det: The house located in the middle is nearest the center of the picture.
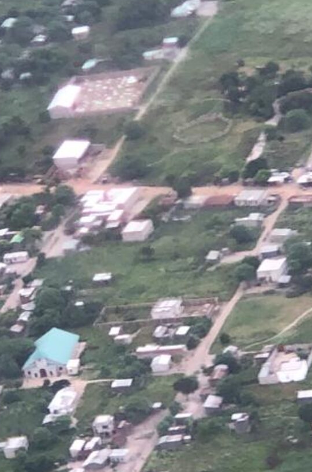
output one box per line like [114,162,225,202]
[121,219,151,242]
